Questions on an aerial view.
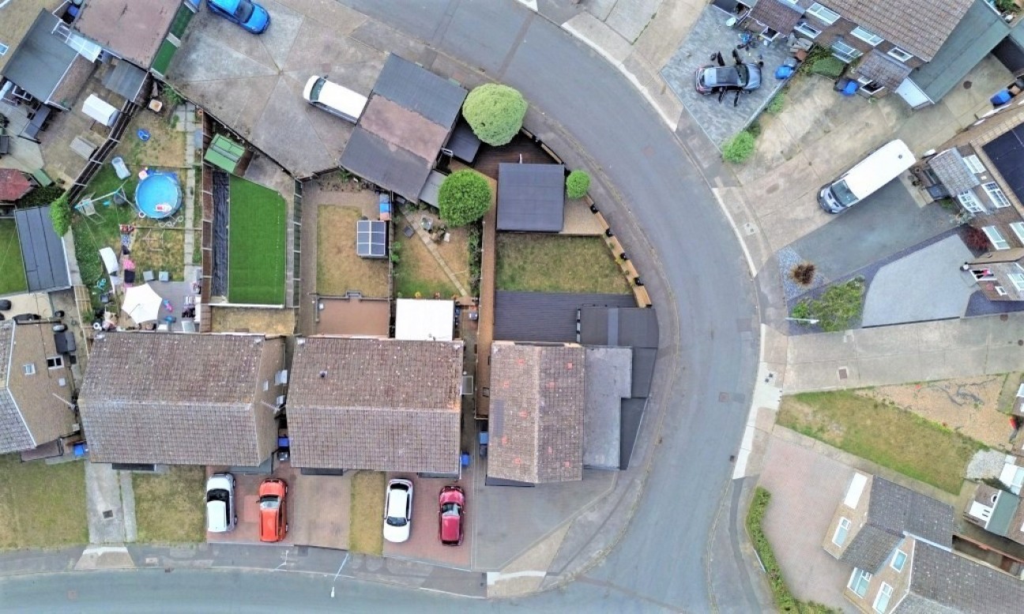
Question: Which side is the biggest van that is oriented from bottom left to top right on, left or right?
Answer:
right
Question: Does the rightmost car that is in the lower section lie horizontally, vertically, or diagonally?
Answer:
vertically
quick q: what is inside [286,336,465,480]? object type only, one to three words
house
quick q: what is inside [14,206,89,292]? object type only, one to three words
shed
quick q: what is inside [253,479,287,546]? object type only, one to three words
car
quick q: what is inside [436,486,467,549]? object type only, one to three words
car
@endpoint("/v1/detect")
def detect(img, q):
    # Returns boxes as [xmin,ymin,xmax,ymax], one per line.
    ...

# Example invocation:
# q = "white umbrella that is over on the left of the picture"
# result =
[122,283,162,324]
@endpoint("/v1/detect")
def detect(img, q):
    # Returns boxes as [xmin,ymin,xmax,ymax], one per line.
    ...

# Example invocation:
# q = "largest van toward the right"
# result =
[815,139,917,217]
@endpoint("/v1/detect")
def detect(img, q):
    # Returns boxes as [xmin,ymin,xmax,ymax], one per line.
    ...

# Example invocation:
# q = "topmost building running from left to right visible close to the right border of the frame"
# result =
[740,0,974,101]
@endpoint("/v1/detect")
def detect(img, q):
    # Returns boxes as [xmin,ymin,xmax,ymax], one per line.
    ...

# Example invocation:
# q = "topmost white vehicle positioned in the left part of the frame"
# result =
[296,72,365,120]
